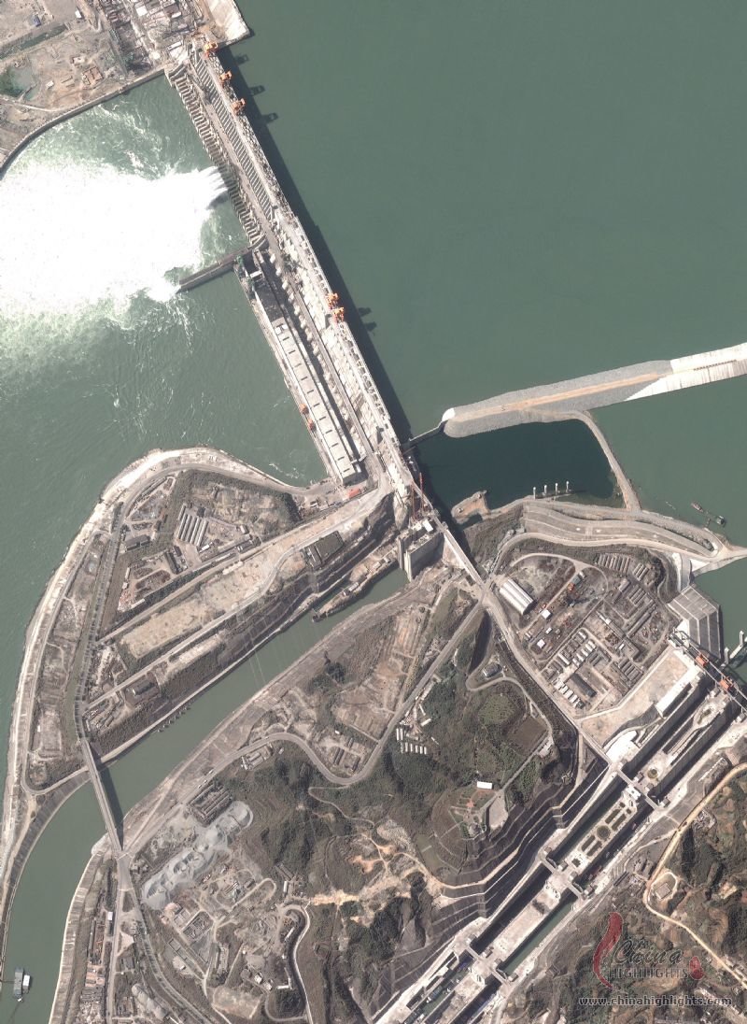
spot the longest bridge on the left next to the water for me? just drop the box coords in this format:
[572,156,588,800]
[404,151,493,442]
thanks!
[78,735,126,855]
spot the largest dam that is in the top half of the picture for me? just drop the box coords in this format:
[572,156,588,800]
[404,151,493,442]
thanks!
[180,40,487,601]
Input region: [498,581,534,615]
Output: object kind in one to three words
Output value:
building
